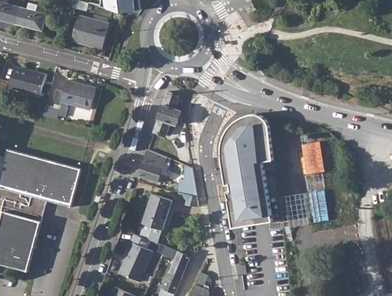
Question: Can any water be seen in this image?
No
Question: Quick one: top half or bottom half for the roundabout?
top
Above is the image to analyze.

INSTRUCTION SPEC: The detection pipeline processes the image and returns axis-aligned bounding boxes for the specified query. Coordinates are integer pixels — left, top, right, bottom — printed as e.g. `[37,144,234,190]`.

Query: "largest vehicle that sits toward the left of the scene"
[129,121,144,152]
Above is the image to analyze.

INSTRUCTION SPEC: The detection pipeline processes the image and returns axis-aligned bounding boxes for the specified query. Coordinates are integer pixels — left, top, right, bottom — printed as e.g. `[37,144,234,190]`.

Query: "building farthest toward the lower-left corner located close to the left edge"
[0,213,42,272]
